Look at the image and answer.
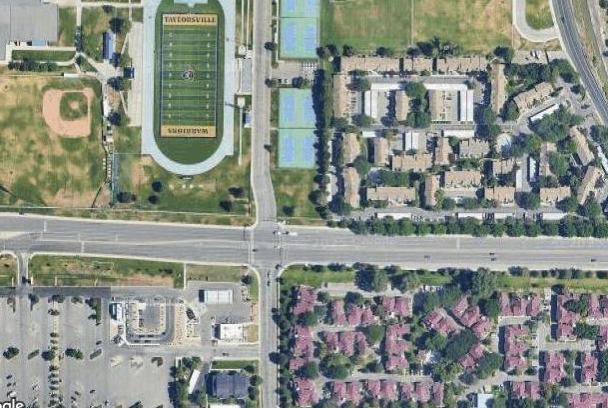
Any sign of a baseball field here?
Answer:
Yes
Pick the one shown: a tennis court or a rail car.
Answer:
tennis court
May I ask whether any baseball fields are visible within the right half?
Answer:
No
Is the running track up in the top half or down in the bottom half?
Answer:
top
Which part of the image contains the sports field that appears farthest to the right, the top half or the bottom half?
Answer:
top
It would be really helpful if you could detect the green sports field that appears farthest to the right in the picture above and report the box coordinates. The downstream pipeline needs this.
[154,0,224,164]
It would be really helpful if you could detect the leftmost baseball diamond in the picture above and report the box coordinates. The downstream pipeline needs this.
[43,88,94,138]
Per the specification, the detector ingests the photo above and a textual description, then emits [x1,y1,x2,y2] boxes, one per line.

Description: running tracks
[142,0,235,175]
